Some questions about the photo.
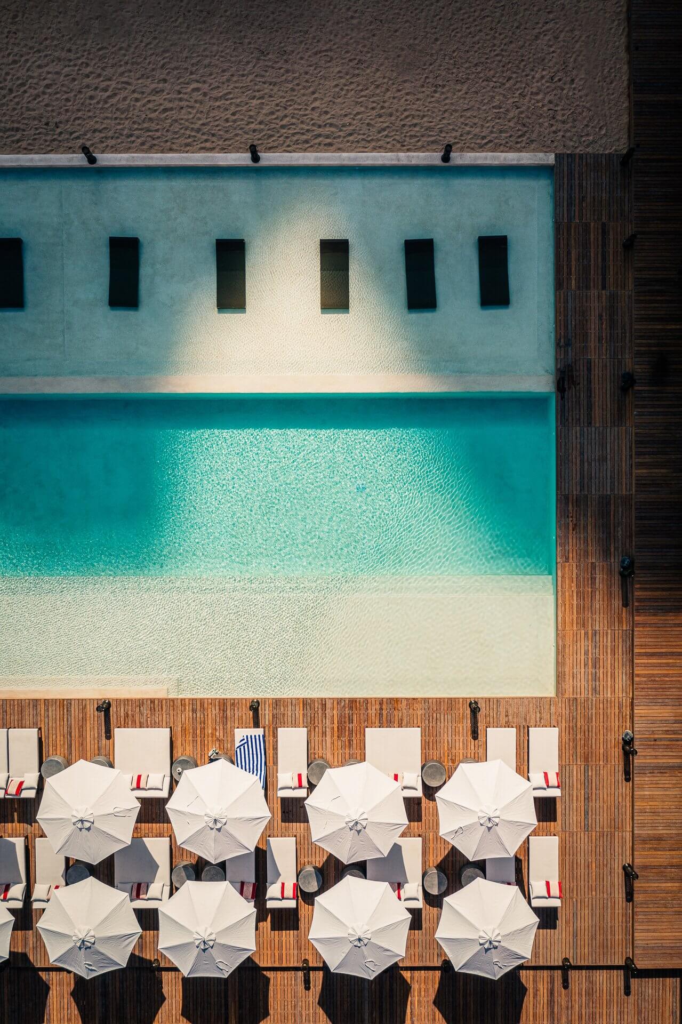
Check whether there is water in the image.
Yes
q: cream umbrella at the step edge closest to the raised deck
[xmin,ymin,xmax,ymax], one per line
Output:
[435,876,539,981]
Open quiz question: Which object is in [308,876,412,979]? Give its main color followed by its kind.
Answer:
white umbrella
